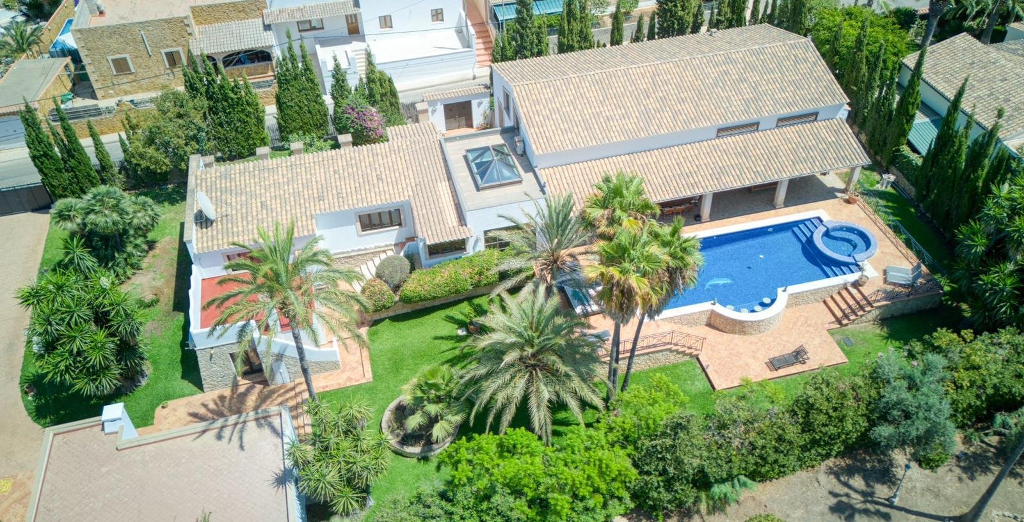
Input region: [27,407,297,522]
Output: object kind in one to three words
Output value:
building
